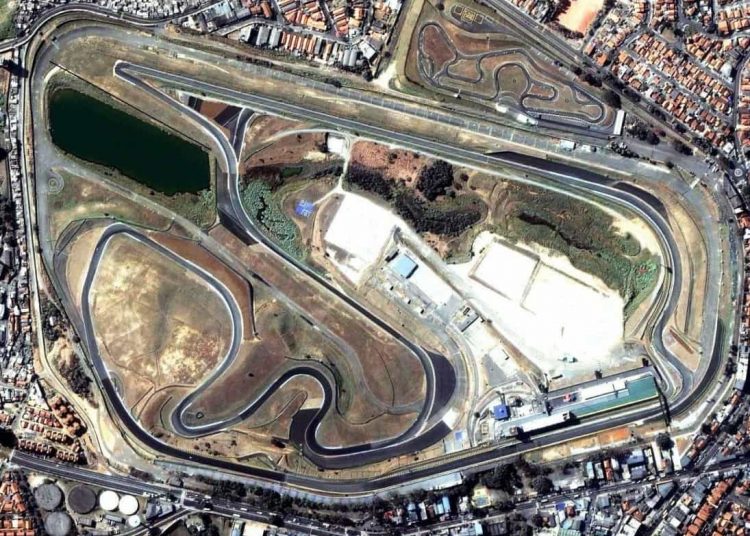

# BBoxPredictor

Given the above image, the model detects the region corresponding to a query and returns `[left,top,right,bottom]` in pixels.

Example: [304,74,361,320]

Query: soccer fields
[558,0,605,34]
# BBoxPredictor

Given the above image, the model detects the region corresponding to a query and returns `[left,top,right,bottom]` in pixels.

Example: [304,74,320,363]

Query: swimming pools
[472,487,491,507]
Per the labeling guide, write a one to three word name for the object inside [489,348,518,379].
building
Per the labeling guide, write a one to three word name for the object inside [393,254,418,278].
building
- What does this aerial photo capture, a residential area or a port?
residential area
